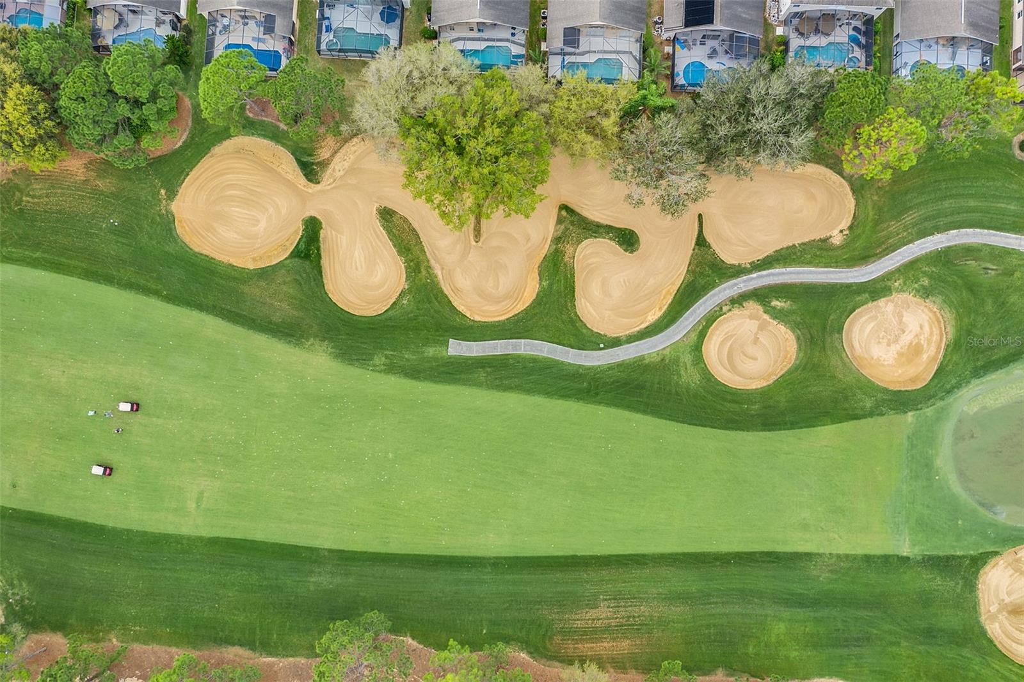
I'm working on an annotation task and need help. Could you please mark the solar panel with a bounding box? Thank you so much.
[685,0,716,29]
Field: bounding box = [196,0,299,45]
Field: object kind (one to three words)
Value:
house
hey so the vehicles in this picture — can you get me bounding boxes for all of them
[89,465,115,476]
[116,402,141,412]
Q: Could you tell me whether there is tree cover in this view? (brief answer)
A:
Yes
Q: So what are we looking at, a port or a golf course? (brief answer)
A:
golf course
